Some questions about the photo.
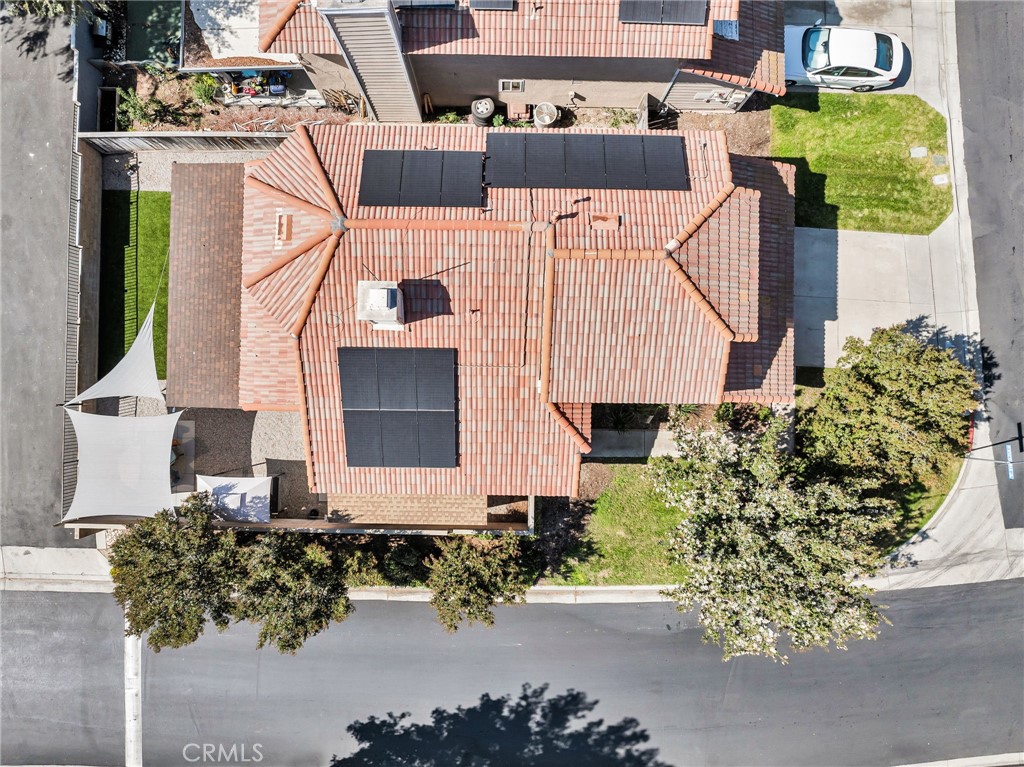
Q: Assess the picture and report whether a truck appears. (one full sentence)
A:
No, I can see no truck in this picture.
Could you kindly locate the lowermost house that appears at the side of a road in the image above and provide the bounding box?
[167,124,800,526]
